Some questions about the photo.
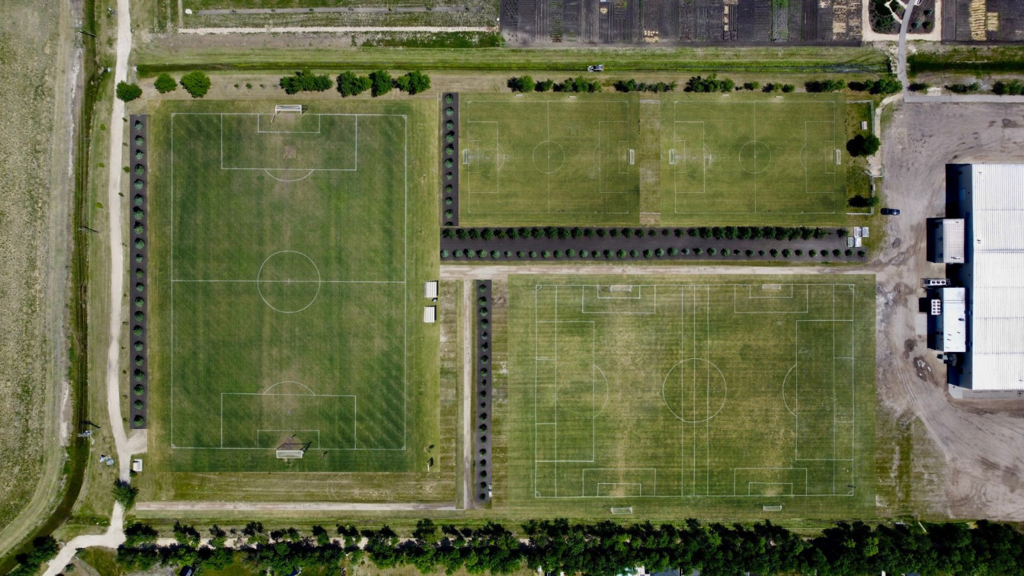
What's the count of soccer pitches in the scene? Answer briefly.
4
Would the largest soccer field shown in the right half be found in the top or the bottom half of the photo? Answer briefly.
bottom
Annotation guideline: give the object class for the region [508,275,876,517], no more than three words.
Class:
soccer field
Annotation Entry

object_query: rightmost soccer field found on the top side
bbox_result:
[660,93,846,226]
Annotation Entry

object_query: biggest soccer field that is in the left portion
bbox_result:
[148,100,439,472]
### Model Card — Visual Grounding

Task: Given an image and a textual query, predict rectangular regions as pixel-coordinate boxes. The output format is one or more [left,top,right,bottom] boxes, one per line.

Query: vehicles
[488,484,495,498]
[882,207,901,215]
[934,355,957,364]
[588,64,604,72]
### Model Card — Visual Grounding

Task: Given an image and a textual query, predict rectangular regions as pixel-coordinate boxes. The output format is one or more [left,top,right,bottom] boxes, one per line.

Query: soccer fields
[148,100,439,472]
[660,93,846,226]
[460,93,639,226]
[508,275,876,517]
